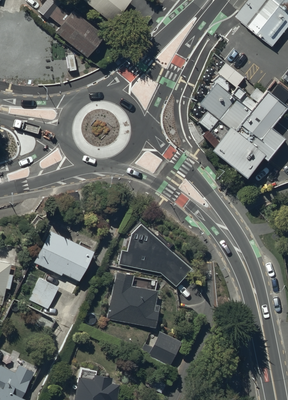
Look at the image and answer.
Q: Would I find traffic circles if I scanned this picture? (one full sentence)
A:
Yes, a traffic circle is visible in the scene.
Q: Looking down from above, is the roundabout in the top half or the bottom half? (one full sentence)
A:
You can find the roundabout in the top half.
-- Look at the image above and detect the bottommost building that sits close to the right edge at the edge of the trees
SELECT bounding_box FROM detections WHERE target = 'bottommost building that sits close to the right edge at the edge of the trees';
[200,63,288,178]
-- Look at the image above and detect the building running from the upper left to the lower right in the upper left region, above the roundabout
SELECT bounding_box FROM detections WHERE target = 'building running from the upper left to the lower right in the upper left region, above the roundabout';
[39,0,102,56]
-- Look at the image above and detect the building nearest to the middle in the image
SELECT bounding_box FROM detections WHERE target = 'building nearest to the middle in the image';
[118,224,192,288]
